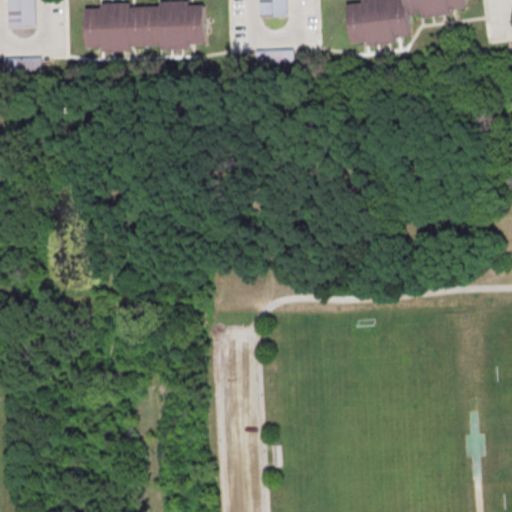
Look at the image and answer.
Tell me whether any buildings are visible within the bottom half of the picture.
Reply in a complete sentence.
No, no building is visible within the bottom half of the picture.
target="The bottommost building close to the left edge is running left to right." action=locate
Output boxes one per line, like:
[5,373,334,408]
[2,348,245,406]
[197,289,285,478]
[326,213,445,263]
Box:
[4,56,42,71]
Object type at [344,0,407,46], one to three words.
building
